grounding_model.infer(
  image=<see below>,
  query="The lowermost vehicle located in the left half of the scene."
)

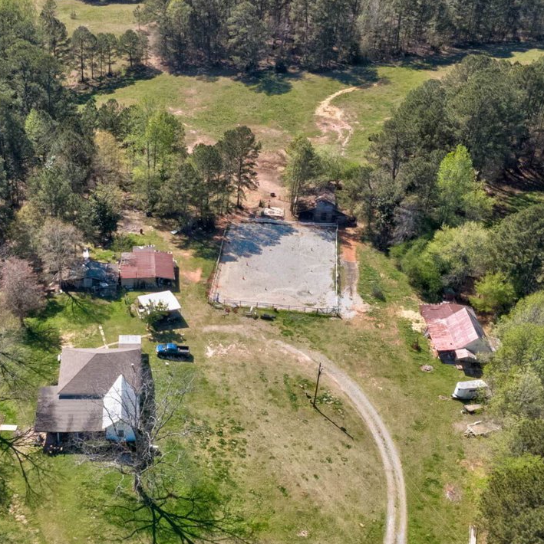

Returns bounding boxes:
[157,346,192,361]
